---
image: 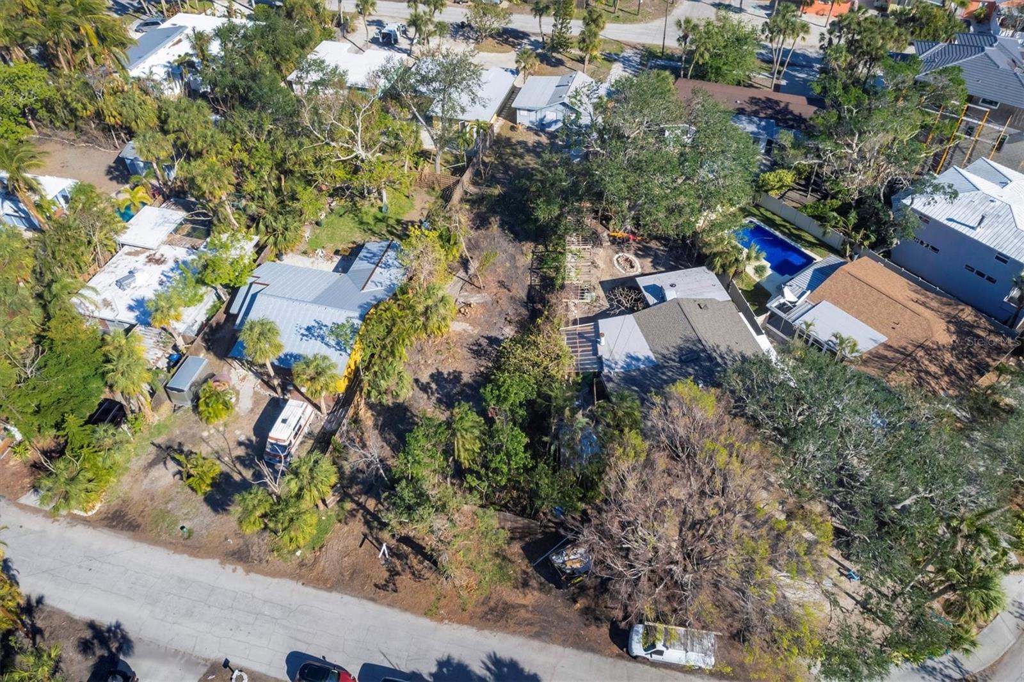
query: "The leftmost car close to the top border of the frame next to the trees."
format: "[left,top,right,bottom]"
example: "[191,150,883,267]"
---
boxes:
[136,20,162,33]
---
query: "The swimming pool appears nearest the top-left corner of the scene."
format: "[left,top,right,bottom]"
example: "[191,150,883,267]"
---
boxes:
[115,191,143,221]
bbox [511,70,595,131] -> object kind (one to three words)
house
